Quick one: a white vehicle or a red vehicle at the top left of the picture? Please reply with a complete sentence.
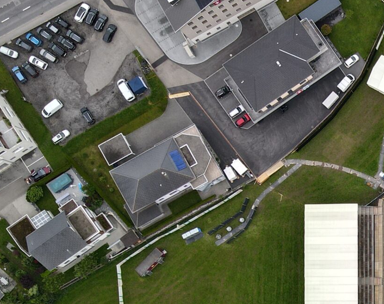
Visible at the top left of the picture is a white vehicle.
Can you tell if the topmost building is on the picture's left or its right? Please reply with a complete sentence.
It is on the right.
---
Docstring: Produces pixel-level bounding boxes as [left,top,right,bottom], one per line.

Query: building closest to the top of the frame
[299,0,342,22]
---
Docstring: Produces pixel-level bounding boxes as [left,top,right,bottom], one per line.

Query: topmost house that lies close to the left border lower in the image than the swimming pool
[7,199,115,271]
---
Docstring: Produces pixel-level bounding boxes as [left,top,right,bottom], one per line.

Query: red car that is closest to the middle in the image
[234,113,251,128]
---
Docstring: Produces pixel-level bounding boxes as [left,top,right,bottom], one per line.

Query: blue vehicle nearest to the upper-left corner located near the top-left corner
[26,31,43,48]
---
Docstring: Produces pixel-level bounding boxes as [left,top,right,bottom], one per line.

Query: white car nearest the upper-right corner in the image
[342,52,361,70]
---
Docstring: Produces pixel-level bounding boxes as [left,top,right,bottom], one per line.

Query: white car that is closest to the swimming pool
[51,128,71,144]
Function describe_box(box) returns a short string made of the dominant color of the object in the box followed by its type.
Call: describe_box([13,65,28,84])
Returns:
blue car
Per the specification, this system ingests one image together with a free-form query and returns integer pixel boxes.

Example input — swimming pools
[49,172,72,190]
